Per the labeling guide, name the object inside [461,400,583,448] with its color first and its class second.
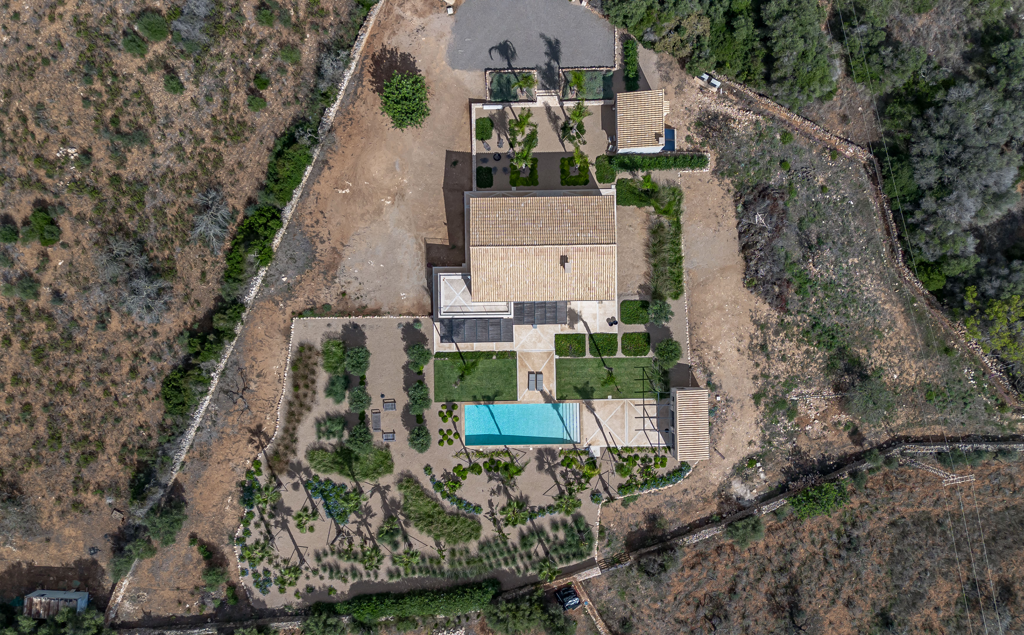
blue swimming pool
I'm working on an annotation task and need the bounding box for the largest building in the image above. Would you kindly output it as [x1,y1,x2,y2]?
[439,195,617,318]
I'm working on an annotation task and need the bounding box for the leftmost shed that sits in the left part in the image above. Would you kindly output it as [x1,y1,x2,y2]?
[23,590,91,618]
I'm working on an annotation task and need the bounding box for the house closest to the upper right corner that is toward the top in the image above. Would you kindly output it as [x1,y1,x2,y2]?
[615,88,672,152]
